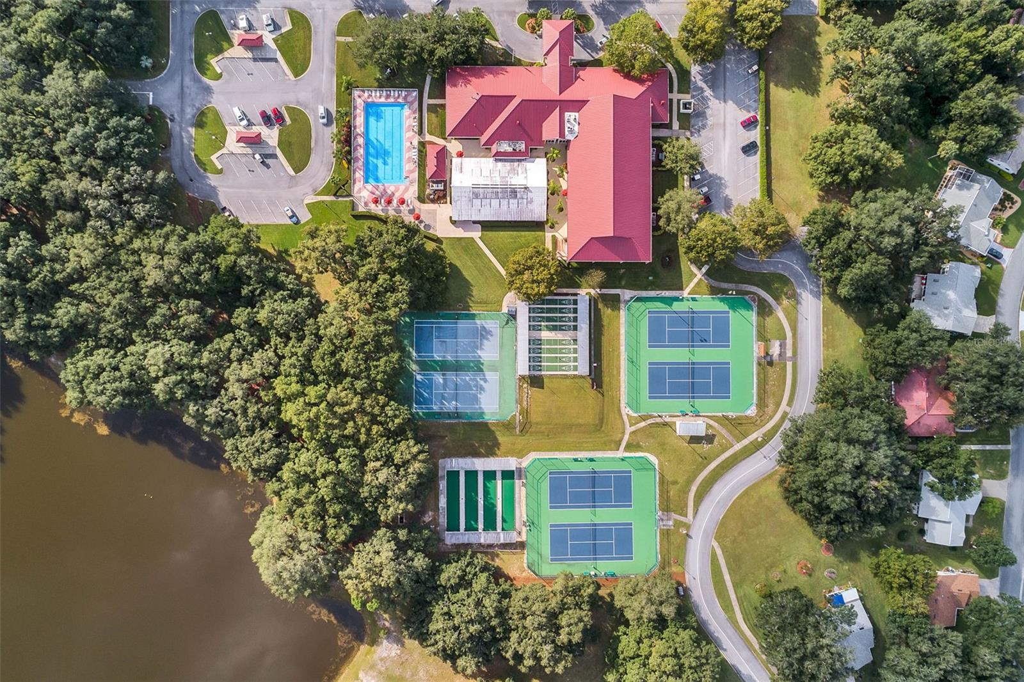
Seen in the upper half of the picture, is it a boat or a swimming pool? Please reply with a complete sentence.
Looking in the upper half of the picture, you will find a swimming pool.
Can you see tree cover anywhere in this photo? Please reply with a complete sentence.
Yes, there is tree cover in the image.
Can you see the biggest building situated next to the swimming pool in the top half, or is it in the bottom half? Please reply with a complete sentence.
You can find the biggest building situated next to the swimming pool in the top half.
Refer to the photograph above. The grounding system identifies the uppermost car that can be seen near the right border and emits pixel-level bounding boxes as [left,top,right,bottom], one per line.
[988,247,1003,259]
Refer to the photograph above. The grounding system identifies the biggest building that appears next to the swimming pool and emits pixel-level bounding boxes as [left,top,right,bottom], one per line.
[445,19,669,265]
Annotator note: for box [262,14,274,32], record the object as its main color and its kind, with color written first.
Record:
white vehicle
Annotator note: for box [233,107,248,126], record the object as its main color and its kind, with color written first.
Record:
white vehicle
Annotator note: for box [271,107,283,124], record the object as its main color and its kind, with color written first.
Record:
red vehicle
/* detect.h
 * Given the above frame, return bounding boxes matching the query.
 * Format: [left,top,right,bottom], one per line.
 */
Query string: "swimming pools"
[352,89,420,211]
